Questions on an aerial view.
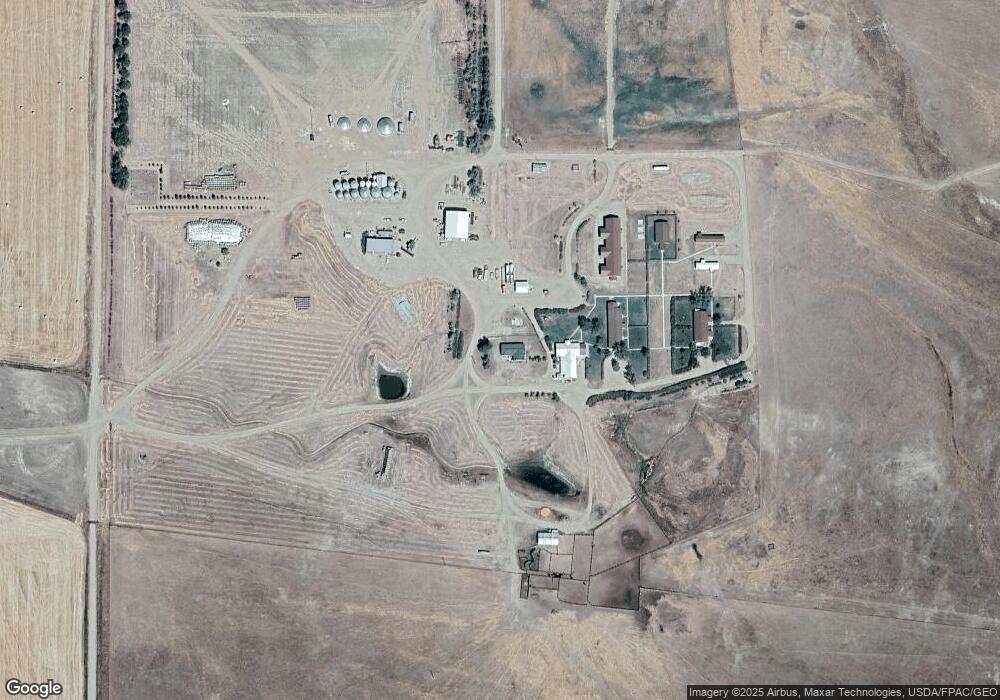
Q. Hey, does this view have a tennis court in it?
No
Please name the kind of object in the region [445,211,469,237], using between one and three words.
shed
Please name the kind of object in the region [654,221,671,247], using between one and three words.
building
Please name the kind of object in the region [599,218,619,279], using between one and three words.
house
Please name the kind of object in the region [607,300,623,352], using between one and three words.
house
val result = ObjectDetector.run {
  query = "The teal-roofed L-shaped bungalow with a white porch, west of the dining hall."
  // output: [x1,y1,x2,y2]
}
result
[501,343,525,362]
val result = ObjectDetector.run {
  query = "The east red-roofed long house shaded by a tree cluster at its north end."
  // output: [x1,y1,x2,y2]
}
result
[694,309,711,346]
